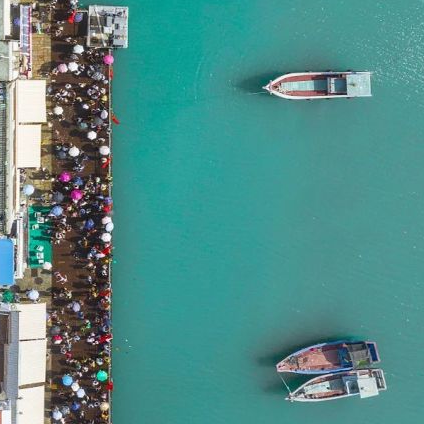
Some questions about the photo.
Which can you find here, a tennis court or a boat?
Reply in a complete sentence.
It is a boat that can be seen here.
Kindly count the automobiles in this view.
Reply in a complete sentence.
The photo contains no automobiles.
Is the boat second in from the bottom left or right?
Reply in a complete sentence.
The boat second in from the bottom is on the right side of the image.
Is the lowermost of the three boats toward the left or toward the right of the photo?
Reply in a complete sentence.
You can find the lowermost of the three boats on the right side of the picture.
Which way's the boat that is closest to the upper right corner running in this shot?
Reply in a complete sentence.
The boat that is closest to the upper right corner is laid out horizontally.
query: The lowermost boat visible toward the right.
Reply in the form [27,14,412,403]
[282,363,386,403]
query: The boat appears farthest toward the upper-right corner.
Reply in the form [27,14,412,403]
[261,67,372,99]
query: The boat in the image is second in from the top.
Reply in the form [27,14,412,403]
[274,333,379,373]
